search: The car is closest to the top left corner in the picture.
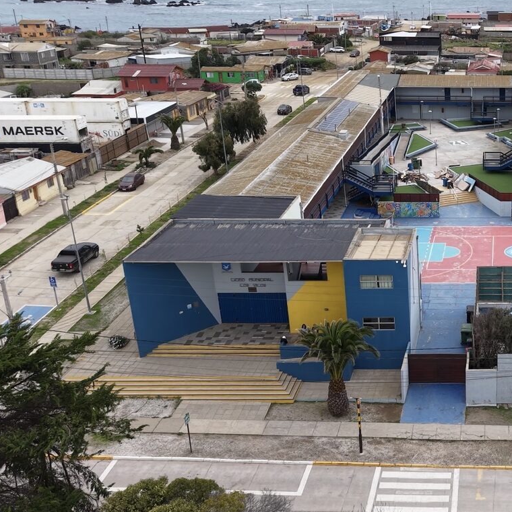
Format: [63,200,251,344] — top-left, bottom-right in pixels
[119,170,146,187]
